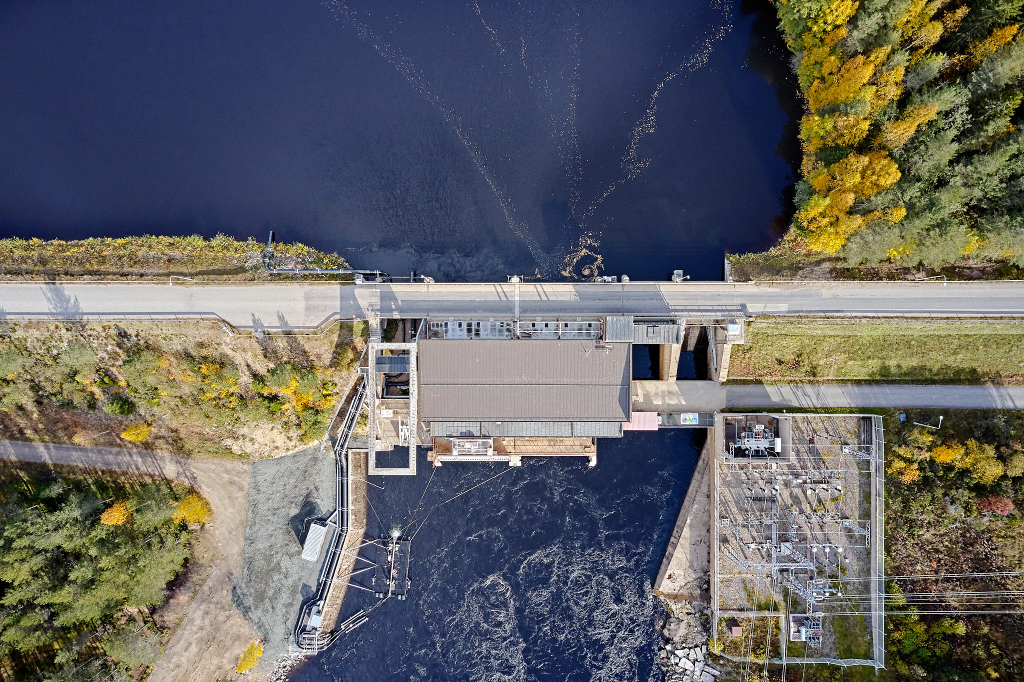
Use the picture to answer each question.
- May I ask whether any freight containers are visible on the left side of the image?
Yes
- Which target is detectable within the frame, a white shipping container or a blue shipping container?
white shipping container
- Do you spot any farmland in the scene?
No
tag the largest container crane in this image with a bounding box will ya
[452,437,493,456]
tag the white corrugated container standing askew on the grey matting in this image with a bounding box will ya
[301,514,333,561]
